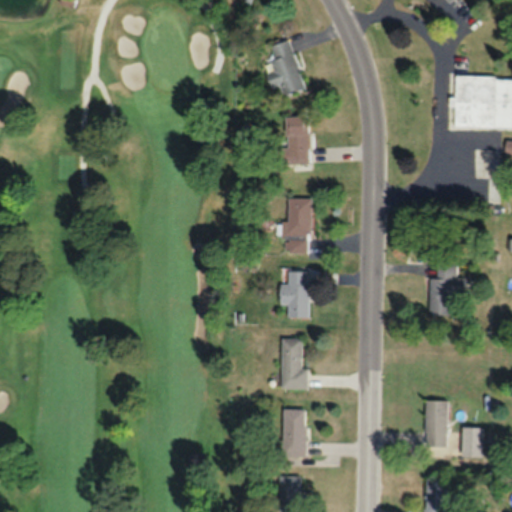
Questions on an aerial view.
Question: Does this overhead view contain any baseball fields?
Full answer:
No, the frame has no baseball field in it.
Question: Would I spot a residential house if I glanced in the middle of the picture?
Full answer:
Yes, I can see a residential house in the middle of the picture.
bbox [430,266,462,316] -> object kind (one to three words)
house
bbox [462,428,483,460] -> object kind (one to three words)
building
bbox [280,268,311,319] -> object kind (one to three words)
house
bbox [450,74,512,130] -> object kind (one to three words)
building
